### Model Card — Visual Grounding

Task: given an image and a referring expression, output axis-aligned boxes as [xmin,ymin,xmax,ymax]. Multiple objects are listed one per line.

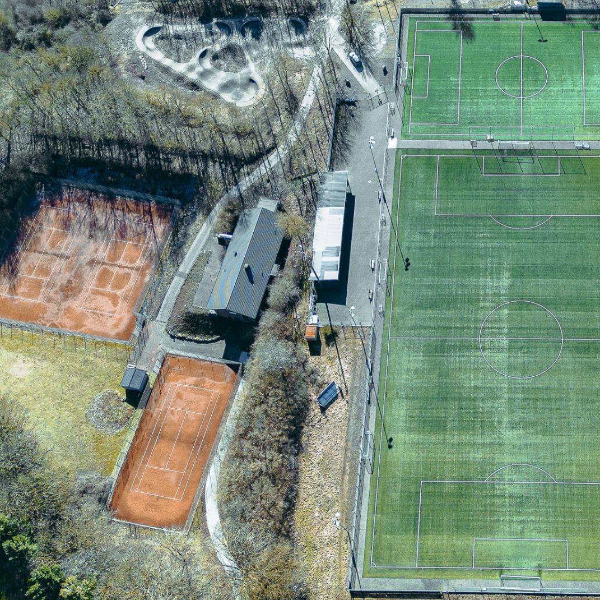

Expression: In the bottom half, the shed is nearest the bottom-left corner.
[120,368,149,392]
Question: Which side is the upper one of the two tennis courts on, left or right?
left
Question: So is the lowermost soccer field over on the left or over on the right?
right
